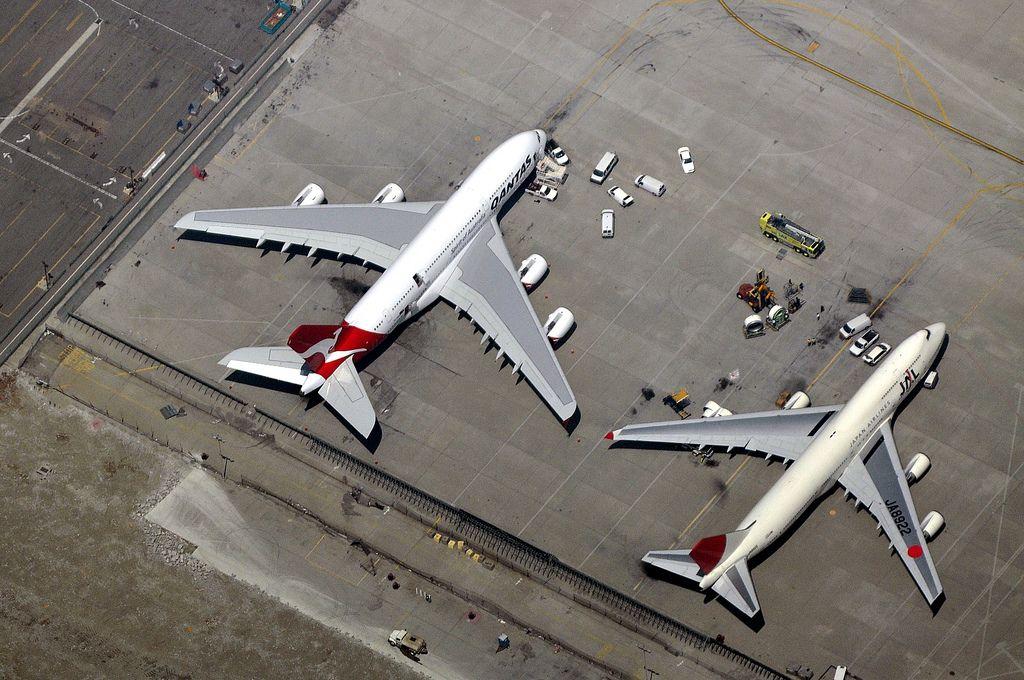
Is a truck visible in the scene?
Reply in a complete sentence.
Yes, looking at the shot, I can spot a truck.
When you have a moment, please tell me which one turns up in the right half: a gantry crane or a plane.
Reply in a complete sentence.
There is a plane in the right half.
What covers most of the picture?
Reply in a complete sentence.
For the most part, this view shows paved ground.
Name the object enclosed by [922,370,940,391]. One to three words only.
vehicle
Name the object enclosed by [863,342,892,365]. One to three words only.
car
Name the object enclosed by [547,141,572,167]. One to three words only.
truck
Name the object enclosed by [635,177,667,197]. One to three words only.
vehicle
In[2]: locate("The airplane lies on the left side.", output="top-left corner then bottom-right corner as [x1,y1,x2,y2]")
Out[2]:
[170,131,578,440]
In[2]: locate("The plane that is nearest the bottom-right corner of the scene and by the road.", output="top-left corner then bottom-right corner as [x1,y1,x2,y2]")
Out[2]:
[606,323,947,620]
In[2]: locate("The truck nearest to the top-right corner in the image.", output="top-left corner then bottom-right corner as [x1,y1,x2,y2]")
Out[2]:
[758,213,826,260]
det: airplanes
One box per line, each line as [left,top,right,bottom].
[606,323,947,620]
[170,131,578,440]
